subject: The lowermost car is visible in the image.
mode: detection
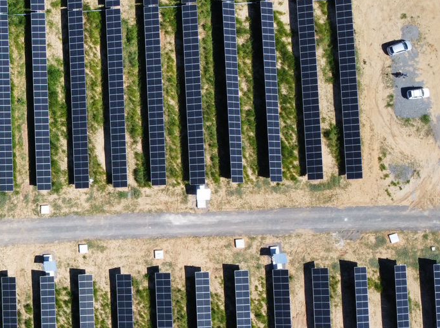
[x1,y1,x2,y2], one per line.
[403,87,431,101]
